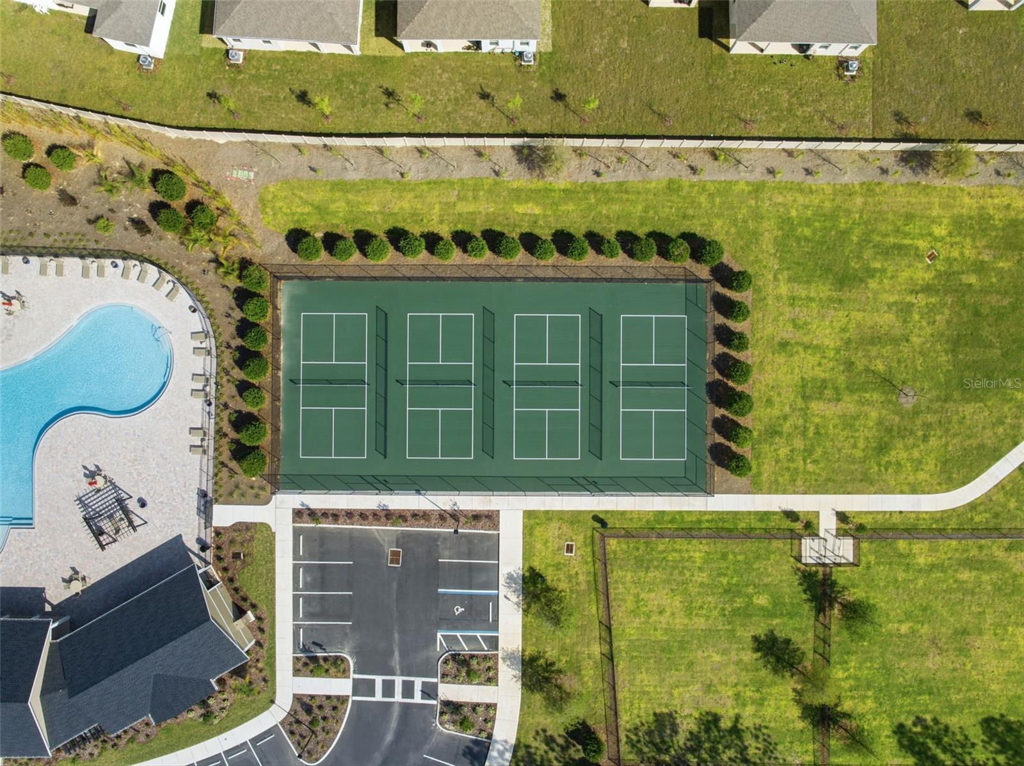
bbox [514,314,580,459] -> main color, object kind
green sports court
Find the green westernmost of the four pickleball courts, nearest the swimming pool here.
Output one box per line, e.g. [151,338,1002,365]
[300,313,367,458]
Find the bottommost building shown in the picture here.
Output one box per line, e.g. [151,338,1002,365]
[0,562,255,759]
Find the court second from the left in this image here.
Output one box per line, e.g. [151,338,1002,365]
[407,314,473,459]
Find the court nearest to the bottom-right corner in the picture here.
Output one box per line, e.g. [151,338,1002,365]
[620,315,686,460]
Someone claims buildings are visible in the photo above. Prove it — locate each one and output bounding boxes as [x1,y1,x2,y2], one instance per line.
[14,0,175,58]
[649,0,699,6]
[396,0,542,52]
[211,0,362,54]
[0,562,255,759]
[730,0,878,55]
[968,0,1024,10]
